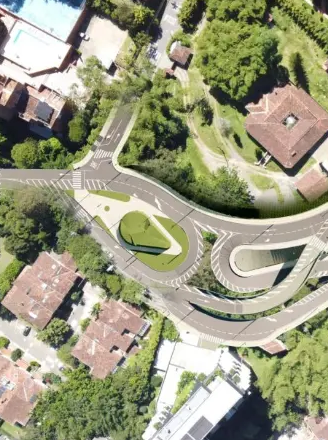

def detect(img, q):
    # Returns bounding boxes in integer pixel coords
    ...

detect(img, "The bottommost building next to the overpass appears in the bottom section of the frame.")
[150,365,246,440]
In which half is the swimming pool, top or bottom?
top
